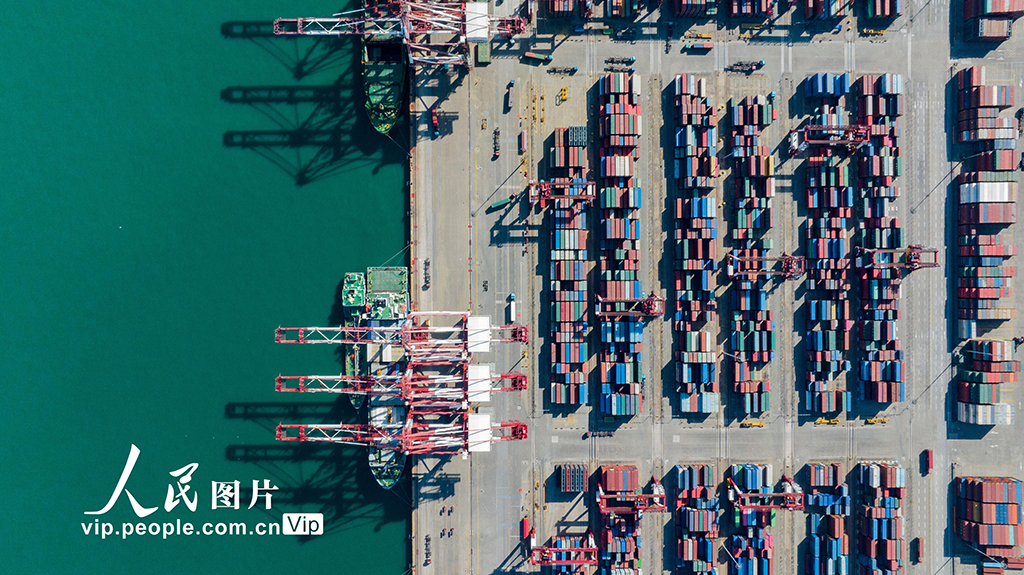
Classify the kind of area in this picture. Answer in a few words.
port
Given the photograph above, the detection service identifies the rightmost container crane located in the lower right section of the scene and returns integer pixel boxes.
[728,479,806,511]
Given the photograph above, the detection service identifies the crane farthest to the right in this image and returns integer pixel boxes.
[856,246,939,271]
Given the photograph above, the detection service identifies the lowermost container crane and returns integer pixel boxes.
[527,531,599,566]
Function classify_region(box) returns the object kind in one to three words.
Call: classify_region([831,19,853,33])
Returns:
work vehicle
